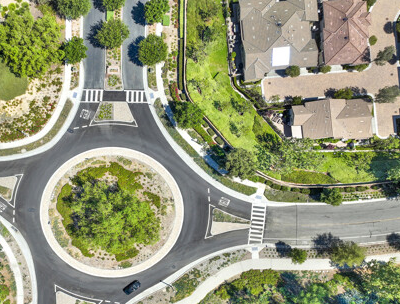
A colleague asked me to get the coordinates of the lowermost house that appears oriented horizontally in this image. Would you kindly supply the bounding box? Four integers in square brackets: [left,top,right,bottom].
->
[290,99,373,139]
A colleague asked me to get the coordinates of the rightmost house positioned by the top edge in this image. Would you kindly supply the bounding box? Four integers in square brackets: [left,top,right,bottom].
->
[319,0,371,66]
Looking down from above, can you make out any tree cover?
Yes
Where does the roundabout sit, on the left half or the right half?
left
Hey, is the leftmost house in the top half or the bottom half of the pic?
top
